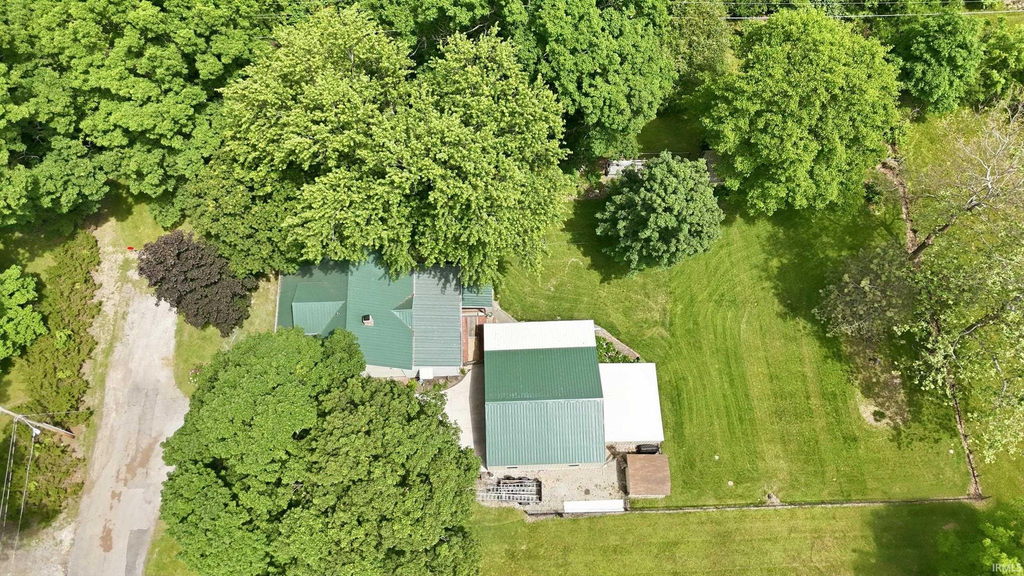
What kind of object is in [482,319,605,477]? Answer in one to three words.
building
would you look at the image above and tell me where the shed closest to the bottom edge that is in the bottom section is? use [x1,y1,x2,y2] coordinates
[624,452,671,498]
